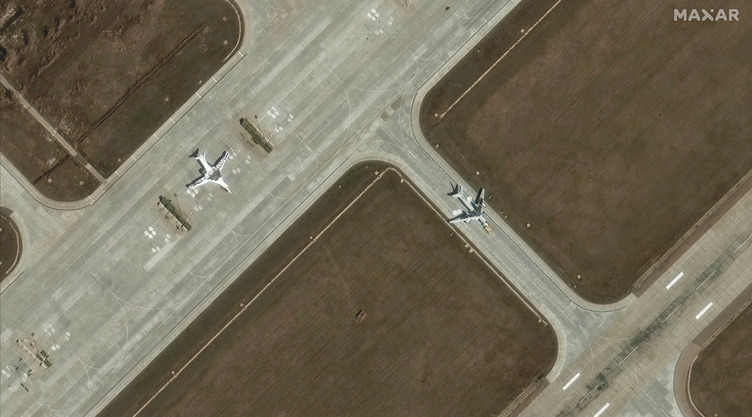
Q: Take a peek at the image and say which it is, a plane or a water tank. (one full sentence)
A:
It is a plane that can be seen here.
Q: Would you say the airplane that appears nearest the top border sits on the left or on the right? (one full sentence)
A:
The airplane that appears nearest the top border sits on the left side.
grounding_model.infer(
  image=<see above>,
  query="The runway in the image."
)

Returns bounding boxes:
[514,187,752,417]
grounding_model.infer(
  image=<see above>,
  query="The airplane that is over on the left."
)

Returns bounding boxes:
[189,152,233,194]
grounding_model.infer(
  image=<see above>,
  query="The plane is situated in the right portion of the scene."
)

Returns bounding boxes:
[449,188,489,225]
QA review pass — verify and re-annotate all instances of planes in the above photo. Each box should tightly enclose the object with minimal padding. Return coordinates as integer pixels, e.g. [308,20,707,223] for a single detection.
[449,188,489,225]
[189,152,233,194]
